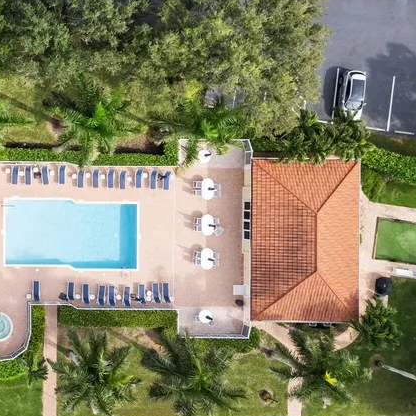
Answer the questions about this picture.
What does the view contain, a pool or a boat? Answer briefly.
pool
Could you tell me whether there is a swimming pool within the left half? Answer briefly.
Yes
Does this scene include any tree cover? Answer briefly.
Yes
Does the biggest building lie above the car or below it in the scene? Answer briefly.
below it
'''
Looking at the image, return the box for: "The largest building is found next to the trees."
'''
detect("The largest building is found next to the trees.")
[237,160,361,322]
